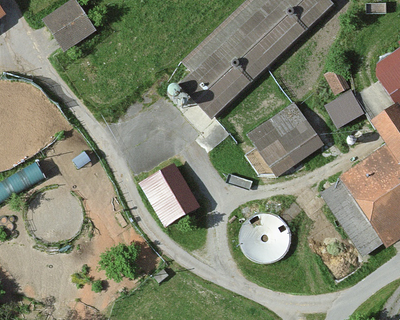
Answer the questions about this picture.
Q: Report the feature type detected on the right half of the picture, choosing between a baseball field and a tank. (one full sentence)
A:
The feature located on the right half of the picture is a tank.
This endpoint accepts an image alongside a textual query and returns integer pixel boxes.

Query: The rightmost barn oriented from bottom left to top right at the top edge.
[180,0,334,118]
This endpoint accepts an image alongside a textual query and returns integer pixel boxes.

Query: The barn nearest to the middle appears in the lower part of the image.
[139,164,200,226]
